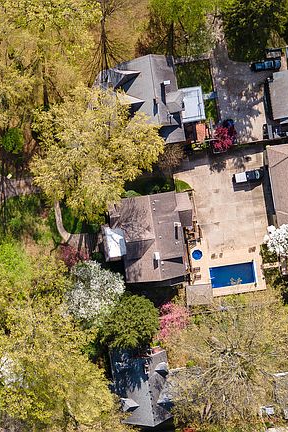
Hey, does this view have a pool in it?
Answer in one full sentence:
Yes, I can see a pool in this picture.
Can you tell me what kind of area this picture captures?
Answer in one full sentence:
The picture captures a residential area.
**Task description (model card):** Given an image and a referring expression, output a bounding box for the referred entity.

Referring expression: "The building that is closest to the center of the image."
[105,192,192,282]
